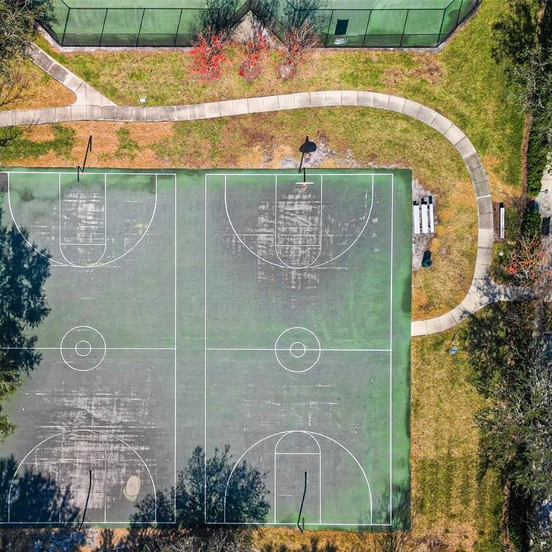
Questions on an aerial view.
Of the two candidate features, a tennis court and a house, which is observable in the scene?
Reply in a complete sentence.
Of the two, only a tennis court appears.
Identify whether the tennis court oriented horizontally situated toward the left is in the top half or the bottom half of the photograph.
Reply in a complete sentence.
The tennis court oriented horizontally situated toward the left sits in the top half of the picture.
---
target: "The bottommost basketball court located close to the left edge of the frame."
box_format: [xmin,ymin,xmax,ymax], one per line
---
[0,168,190,531]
